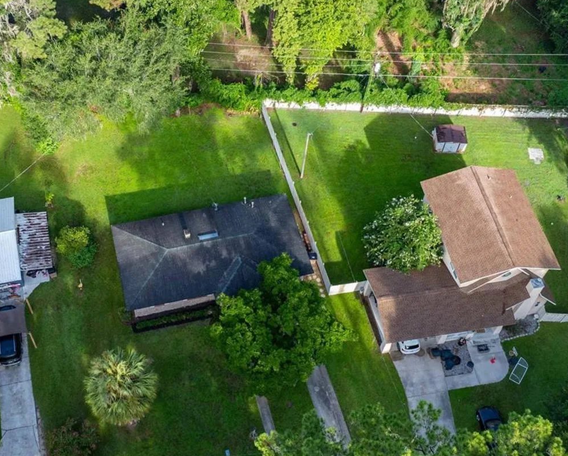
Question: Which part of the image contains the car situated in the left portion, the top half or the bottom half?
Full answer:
The bottom half of the photo is where the car situated in the left portion is.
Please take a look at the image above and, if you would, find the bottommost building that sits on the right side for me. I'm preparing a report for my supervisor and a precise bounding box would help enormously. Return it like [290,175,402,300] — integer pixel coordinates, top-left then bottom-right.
[363,166,562,352]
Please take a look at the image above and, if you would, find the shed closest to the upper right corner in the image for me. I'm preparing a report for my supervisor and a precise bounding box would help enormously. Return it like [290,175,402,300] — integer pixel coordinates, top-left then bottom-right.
[432,124,470,153]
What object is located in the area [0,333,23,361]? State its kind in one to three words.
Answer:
car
